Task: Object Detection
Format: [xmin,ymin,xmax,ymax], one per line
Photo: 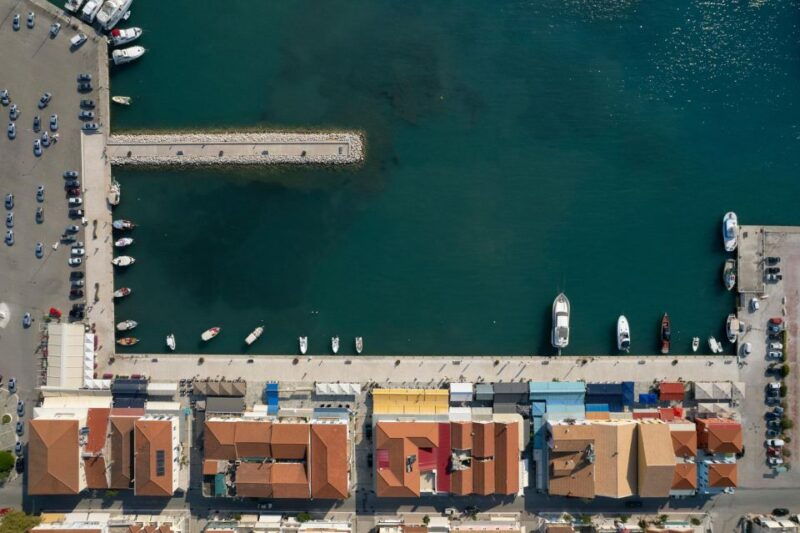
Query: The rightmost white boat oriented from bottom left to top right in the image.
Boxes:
[243,325,263,347]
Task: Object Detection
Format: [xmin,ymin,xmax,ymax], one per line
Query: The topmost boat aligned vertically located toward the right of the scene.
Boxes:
[721,212,739,252]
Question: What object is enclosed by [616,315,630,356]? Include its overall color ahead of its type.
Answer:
white boat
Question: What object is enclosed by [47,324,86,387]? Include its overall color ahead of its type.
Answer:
white tent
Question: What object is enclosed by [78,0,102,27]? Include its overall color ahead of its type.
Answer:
white boat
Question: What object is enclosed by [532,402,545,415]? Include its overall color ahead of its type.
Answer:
blue umbrella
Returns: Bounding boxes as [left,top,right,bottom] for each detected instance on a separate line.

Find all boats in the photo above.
[692,335,698,351]
[355,334,362,353]
[78,0,102,27]
[721,212,739,252]
[61,0,86,17]
[105,27,144,48]
[115,336,140,345]
[114,288,132,296]
[705,334,717,352]
[109,46,147,65]
[198,327,220,343]
[722,259,736,292]
[724,313,740,343]
[112,97,132,103]
[299,334,306,353]
[122,9,130,20]
[243,325,263,347]
[108,177,121,206]
[110,220,134,231]
[550,293,570,357]
[113,255,137,266]
[113,238,134,246]
[114,320,139,332]
[94,0,131,34]
[616,315,630,356]
[166,333,175,350]
[332,334,339,353]
[659,312,670,353]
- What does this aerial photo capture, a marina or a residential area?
marina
